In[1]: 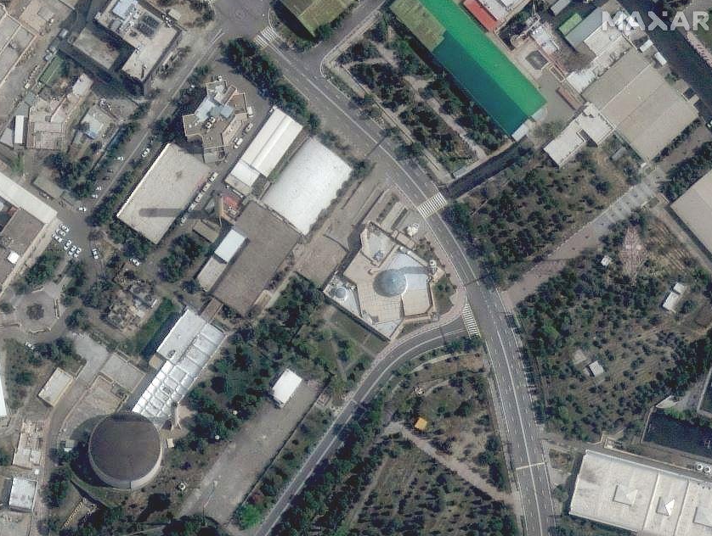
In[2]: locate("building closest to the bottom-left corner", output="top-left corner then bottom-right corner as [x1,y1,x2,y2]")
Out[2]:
[9,477,36,512]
